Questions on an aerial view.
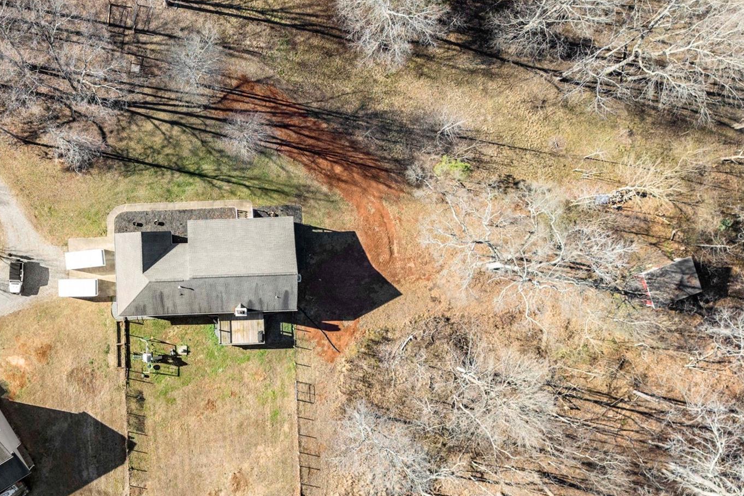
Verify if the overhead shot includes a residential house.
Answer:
Yes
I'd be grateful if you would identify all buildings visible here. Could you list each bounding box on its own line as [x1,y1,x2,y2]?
[0,410,35,493]
[633,257,701,308]
[115,208,302,344]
